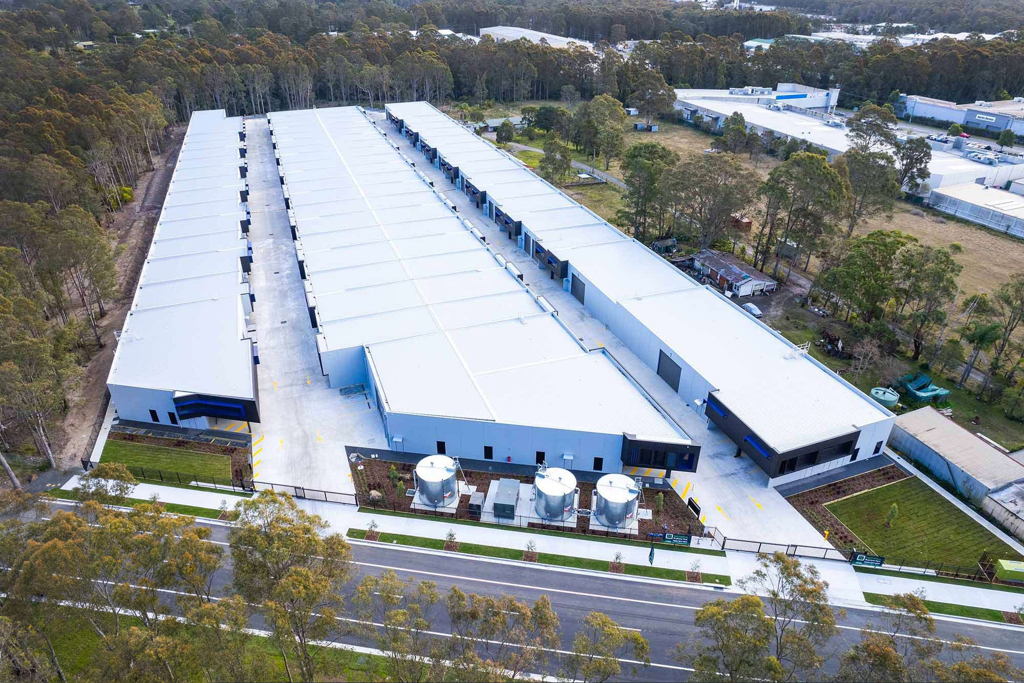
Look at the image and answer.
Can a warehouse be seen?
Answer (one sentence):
Yes, the photo shows a warehouse.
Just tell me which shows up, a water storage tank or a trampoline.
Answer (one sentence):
Visible in the photo is a water storage tank.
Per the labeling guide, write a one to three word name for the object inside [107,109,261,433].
warehouse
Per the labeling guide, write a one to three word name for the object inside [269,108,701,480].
warehouse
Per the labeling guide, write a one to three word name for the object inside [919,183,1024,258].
shed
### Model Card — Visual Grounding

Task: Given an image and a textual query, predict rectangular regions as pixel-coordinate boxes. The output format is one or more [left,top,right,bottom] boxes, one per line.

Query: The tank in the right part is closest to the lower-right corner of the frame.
[869,378,898,406]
